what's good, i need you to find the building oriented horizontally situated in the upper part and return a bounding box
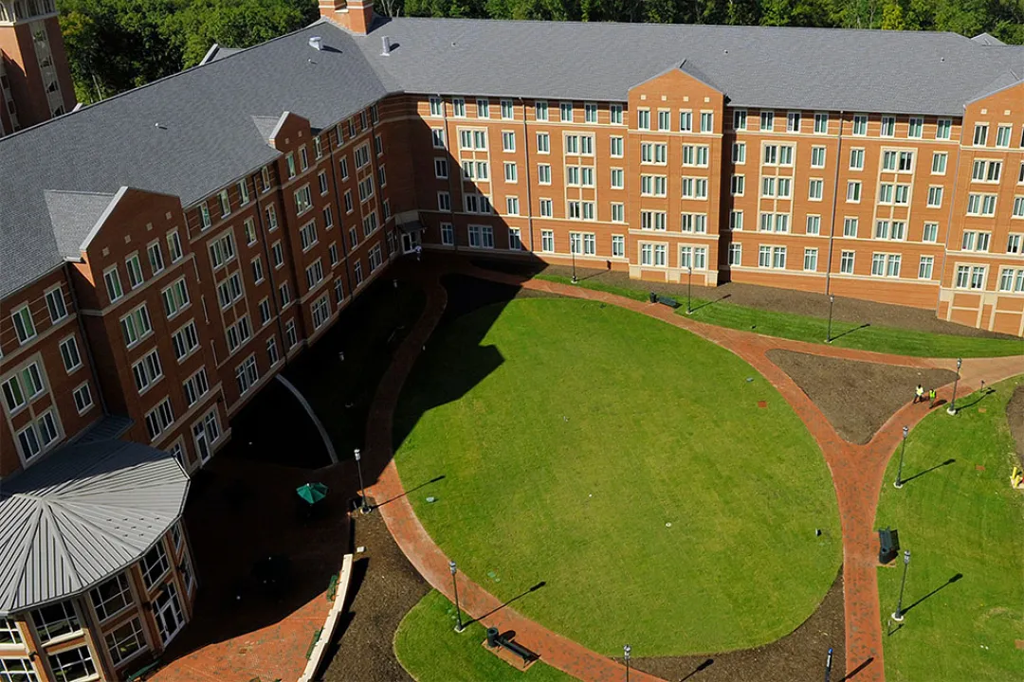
[0,0,1024,480]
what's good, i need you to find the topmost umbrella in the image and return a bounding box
[289,479,324,507]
